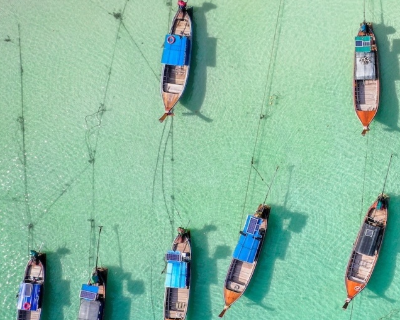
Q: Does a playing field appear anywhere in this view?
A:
No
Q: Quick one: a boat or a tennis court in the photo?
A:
boat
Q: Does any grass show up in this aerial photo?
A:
No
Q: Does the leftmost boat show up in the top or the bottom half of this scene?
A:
bottom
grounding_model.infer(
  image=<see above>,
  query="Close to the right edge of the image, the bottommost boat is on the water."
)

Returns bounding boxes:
[342,155,392,311]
